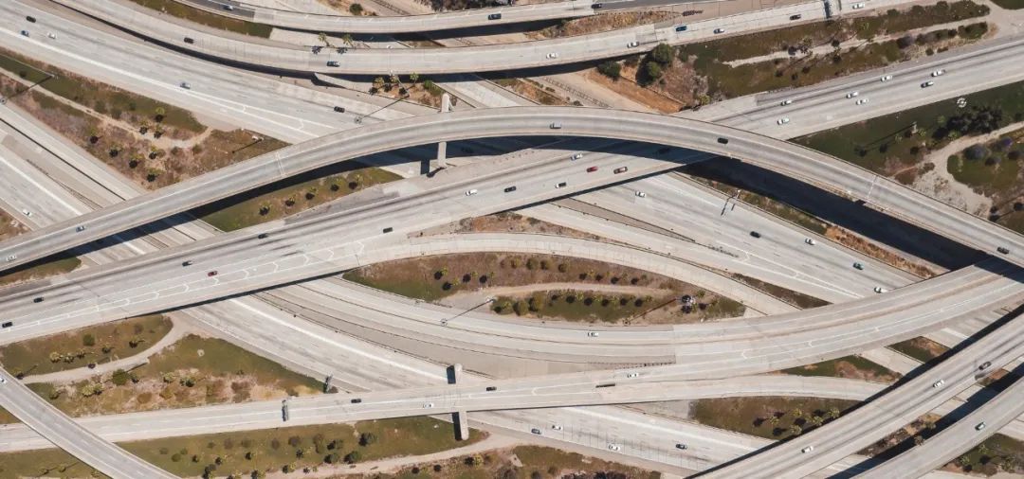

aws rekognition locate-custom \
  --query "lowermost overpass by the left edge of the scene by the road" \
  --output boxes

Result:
[0,364,181,479]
